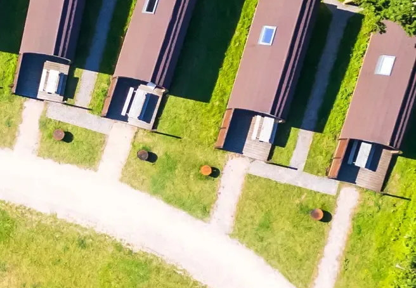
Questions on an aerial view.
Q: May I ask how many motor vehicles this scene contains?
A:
0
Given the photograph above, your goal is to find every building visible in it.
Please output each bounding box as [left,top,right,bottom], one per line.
[9,0,86,103]
[212,0,321,161]
[100,0,197,129]
[323,19,416,193]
